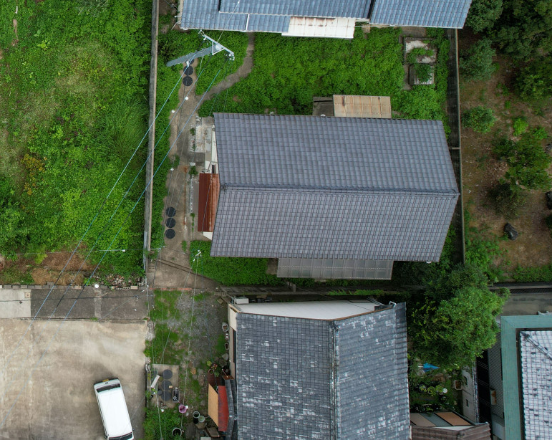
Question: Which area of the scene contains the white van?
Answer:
bottom left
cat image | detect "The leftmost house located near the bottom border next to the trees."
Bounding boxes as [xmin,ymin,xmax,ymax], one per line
[224,298,411,440]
